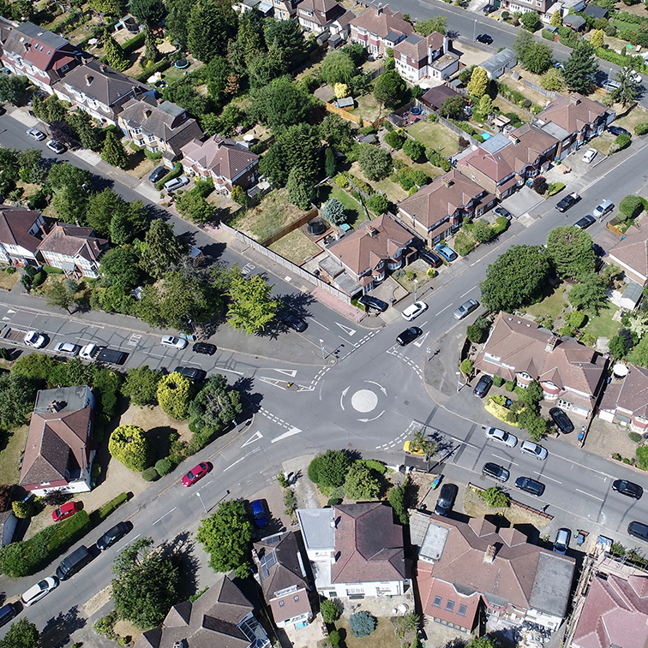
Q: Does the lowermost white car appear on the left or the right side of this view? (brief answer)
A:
left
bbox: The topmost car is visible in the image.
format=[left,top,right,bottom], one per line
[475,34,494,46]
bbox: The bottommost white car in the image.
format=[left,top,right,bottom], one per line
[20,576,59,608]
